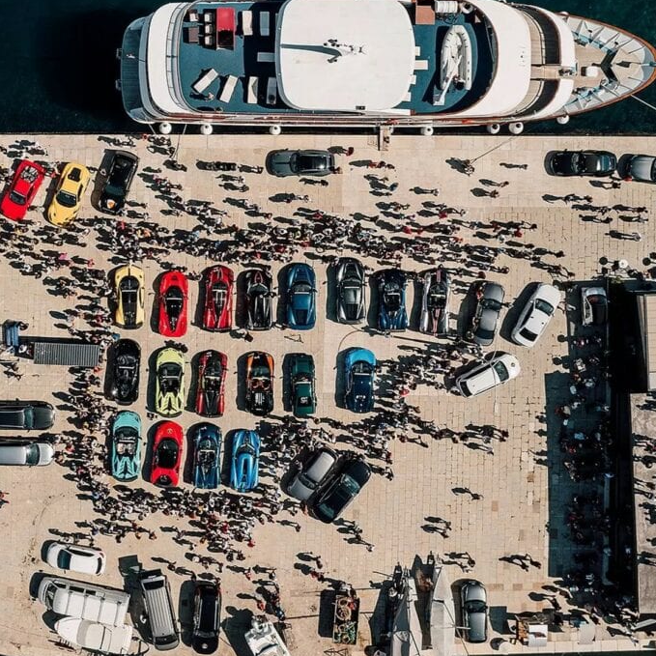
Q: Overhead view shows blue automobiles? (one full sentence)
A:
Yes, looking at the shot, I can spot a blue automobile.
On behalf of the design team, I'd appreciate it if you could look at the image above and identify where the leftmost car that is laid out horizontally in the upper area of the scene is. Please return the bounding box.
[266,145,336,179]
